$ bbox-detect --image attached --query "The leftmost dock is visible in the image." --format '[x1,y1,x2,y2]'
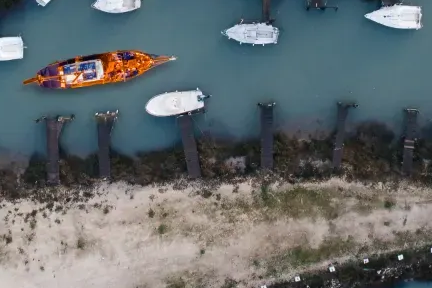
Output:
[34,112,77,184]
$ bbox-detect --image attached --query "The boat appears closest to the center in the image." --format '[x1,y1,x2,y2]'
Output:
[144,84,211,116]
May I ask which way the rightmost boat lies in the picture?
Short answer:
horizontally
